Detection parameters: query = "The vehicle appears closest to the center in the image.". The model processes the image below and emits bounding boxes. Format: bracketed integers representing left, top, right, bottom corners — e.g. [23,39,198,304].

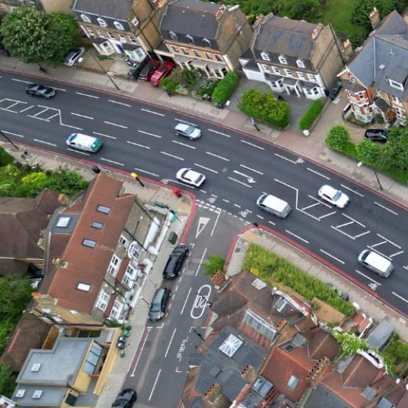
[177,168,206,188]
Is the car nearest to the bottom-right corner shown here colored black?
No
